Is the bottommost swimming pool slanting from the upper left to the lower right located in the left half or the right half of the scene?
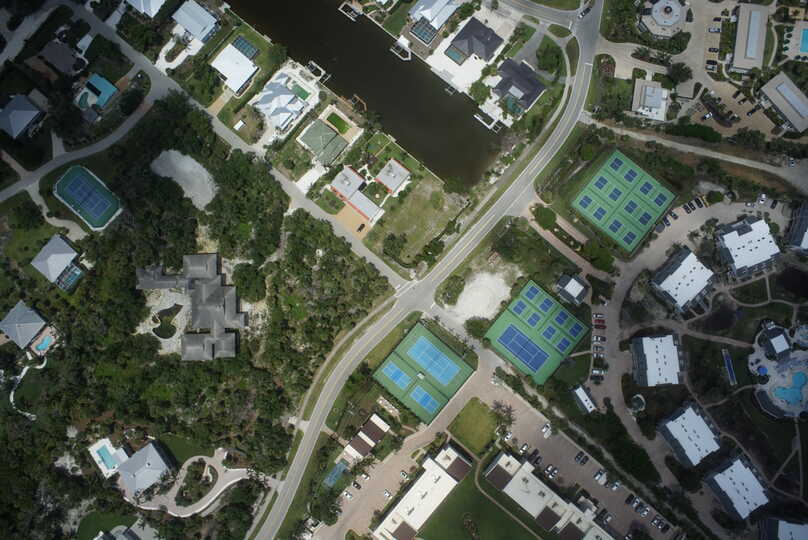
left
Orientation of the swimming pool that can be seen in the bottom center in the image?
at an angle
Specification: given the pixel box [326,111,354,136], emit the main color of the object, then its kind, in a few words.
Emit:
green swimming pool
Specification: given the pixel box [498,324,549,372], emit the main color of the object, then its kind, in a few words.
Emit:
blue tennis court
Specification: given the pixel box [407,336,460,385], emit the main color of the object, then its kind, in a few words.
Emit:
blue tennis court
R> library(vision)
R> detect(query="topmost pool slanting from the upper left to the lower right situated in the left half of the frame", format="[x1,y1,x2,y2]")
[288,81,311,99]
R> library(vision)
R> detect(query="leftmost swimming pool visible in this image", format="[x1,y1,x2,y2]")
[35,335,53,351]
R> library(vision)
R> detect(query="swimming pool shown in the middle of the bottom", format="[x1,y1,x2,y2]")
[324,462,348,488]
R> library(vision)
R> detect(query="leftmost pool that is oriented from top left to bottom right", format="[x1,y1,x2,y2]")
[96,444,119,471]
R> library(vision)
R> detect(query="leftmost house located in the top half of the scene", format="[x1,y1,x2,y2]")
[0,91,44,139]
